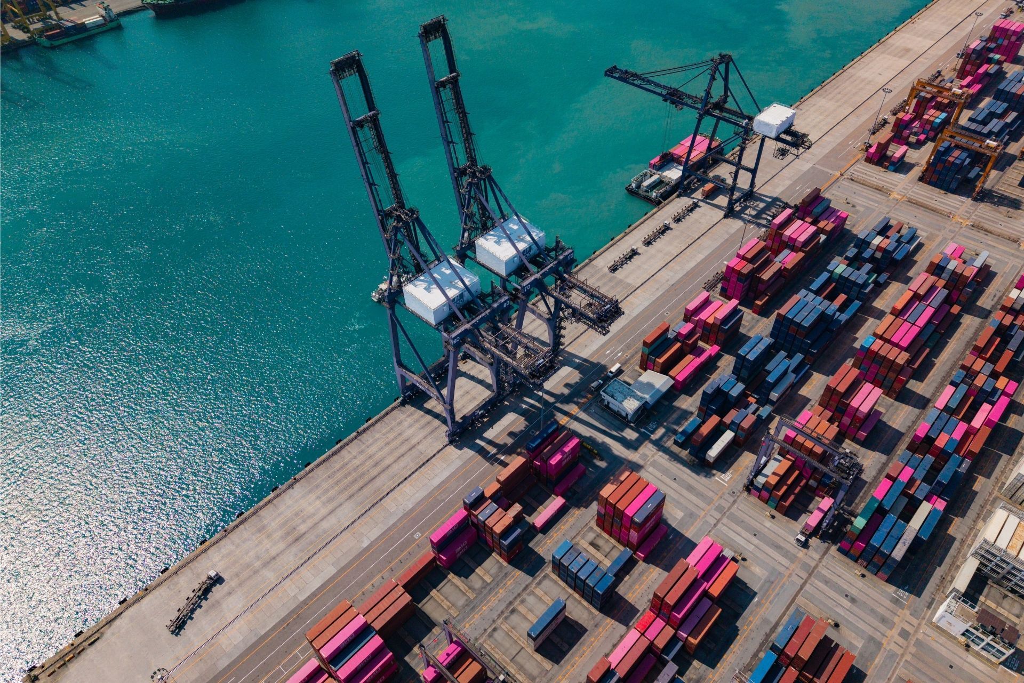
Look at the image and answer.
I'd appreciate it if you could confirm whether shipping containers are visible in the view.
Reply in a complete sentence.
Yes, a shipping container appears in the view.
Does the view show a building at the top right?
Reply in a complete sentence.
No, there is no building at the top right.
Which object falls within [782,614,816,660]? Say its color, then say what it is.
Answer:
red shipping container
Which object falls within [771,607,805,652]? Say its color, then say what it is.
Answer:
blue shipping container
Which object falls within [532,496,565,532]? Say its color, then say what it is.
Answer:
pink shipping container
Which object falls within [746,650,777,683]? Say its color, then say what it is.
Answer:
blue shipping container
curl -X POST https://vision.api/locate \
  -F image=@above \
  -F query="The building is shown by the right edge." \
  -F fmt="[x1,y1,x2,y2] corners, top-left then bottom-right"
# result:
[930,588,1018,669]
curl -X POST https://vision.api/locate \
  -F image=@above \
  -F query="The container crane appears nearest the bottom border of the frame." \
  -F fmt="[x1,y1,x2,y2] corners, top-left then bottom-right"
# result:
[408,609,523,683]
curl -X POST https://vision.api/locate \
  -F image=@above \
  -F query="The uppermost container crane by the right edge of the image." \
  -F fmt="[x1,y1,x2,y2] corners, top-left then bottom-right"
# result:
[893,73,974,143]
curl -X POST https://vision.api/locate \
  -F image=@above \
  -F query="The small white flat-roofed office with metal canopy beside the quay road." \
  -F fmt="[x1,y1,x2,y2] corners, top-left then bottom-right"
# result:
[598,368,675,425]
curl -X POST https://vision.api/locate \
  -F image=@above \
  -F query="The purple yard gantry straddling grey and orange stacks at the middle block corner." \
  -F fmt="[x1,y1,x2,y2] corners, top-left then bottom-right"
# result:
[741,409,871,540]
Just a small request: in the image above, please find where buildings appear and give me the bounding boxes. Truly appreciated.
[930,588,1018,669]
[598,368,675,425]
